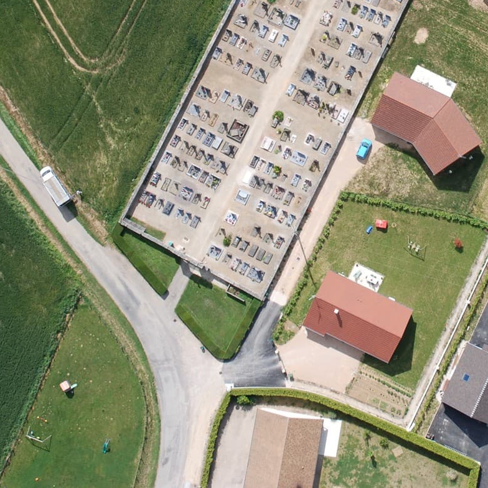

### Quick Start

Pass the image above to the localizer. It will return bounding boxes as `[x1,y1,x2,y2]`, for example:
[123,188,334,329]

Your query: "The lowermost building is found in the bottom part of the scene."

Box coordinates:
[244,407,325,488]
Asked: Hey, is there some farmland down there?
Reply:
Yes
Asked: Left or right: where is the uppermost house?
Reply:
right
